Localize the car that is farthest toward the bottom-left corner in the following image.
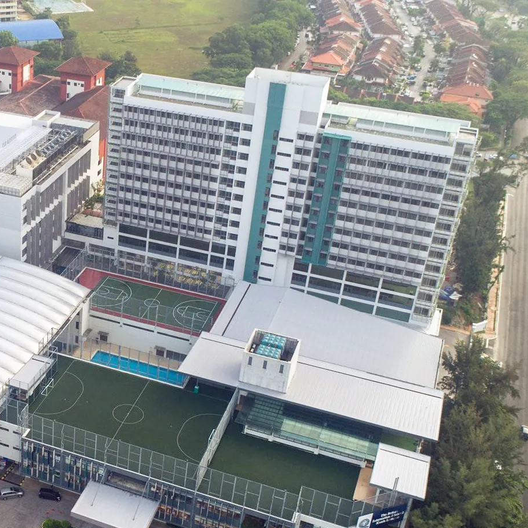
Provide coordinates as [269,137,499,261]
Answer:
[0,486,24,499]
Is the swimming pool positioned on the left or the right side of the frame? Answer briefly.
left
